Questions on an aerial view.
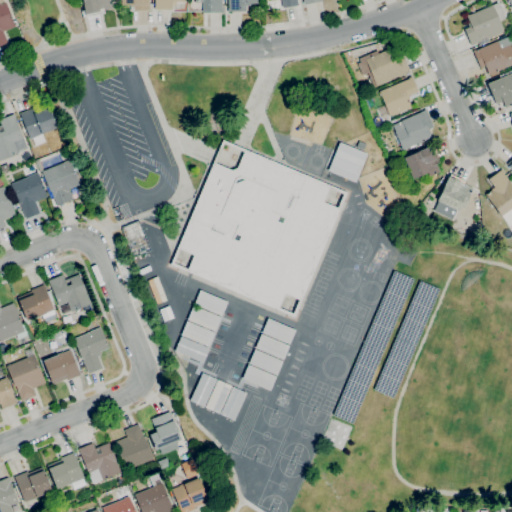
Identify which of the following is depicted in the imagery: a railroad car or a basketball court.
basketball court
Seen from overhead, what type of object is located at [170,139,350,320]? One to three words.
building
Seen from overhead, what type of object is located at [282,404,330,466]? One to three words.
basketball court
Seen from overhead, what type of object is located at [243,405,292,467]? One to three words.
basketball court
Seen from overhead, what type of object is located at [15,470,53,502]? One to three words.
house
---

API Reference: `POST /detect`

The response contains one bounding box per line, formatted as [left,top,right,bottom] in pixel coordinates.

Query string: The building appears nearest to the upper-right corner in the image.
[466,5,506,46]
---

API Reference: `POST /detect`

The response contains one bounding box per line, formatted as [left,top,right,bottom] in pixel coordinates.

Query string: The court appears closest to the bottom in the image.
[260,457,308,512]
